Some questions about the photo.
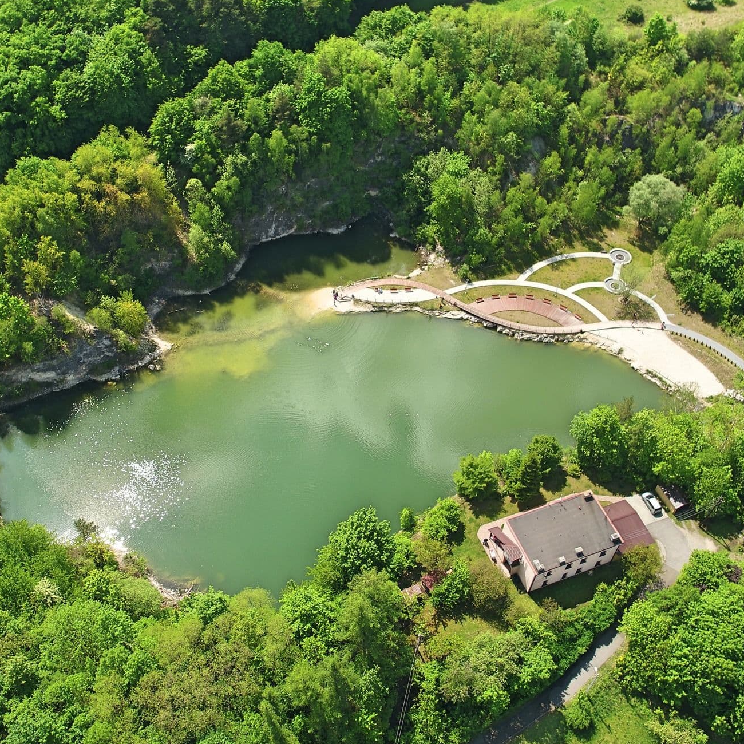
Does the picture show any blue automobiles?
No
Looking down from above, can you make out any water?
Yes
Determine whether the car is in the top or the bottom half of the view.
bottom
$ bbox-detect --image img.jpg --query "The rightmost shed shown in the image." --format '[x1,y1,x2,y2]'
[652,481,689,517]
